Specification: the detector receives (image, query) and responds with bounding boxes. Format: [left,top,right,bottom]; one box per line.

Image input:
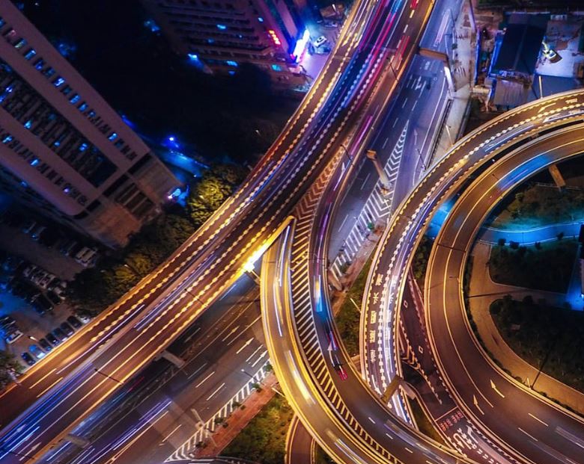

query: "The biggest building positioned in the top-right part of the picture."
[495,14,549,93]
